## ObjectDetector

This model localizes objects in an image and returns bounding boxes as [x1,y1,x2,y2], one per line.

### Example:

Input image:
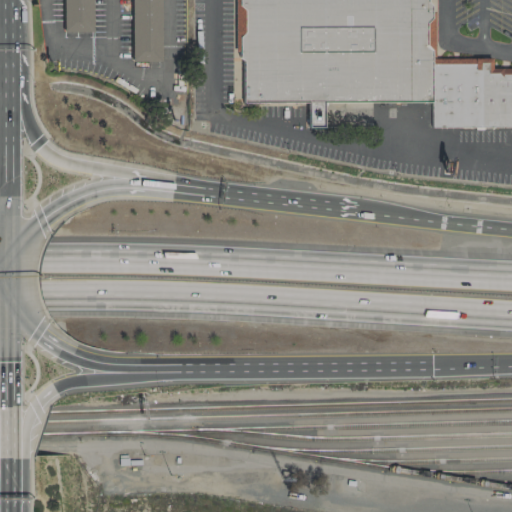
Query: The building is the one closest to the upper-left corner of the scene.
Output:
[65,0,96,32]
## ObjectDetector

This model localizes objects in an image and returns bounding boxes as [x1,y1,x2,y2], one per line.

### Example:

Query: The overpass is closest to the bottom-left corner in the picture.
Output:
[0,394,62,458]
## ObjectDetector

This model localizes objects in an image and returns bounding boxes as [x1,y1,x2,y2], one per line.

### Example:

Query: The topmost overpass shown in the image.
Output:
[0,195,110,361]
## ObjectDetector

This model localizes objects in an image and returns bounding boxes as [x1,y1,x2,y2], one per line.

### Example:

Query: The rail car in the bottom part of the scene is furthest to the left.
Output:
[389,466,433,478]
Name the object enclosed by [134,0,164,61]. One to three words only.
building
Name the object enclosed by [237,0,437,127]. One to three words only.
building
